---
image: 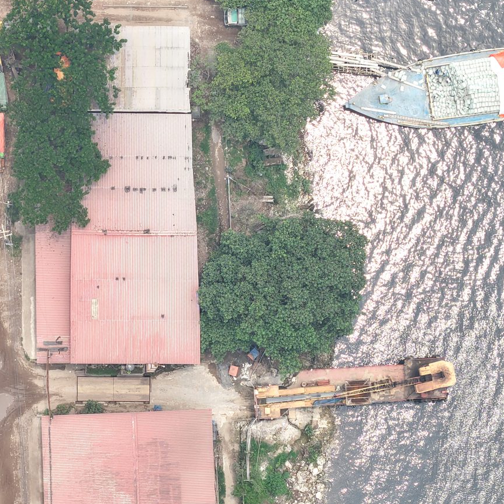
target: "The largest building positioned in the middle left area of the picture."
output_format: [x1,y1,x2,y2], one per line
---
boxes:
[35,114,201,367]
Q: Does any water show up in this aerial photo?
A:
Yes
